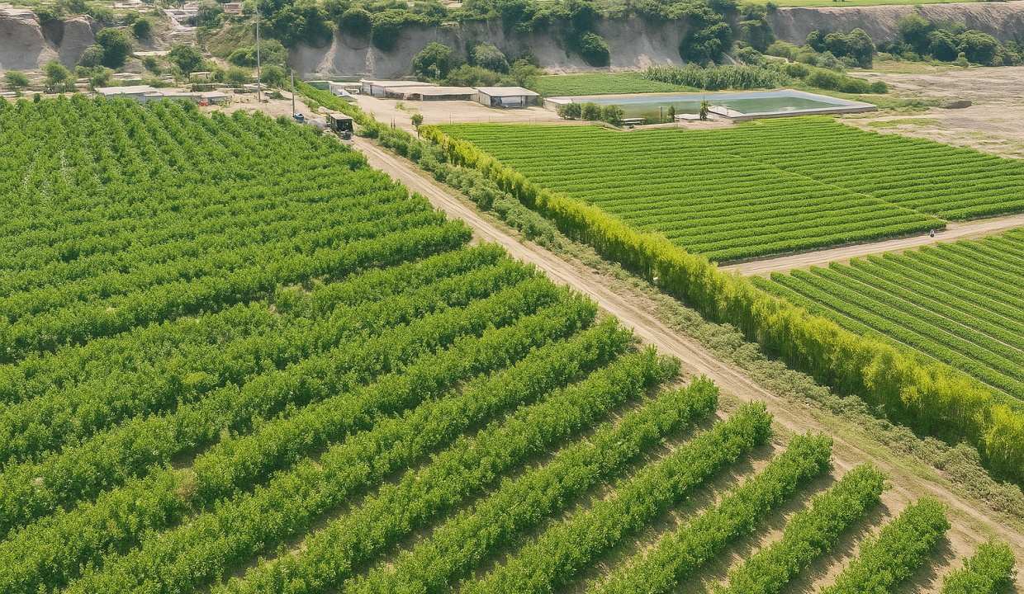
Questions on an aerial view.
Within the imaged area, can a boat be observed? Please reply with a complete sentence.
No, there isn't any boat down there.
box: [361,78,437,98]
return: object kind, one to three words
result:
shed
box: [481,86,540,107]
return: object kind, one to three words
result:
shed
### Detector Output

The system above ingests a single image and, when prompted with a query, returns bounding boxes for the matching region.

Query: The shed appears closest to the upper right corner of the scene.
[550,95,603,112]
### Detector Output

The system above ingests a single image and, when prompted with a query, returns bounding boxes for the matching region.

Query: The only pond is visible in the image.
[547,89,878,130]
